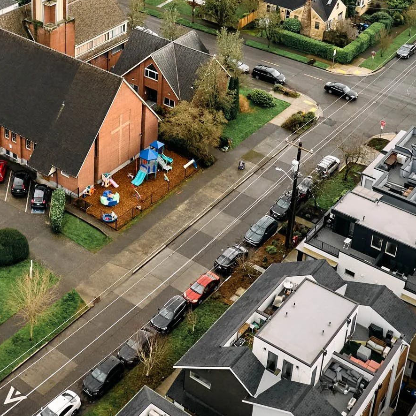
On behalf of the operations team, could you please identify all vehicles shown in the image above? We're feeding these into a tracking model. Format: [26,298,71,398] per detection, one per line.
[243,214,277,249]
[213,245,248,275]
[13,167,32,193]
[138,24,163,36]
[269,190,301,222]
[313,155,343,179]
[230,56,252,72]
[292,176,320,199]
[252,62,287,84]
[185,269,222,305]
[151,292,193,336]
[83,352,129,400]
[324,83,359,101]
[395,42,416,58]
[32,181,50,205]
